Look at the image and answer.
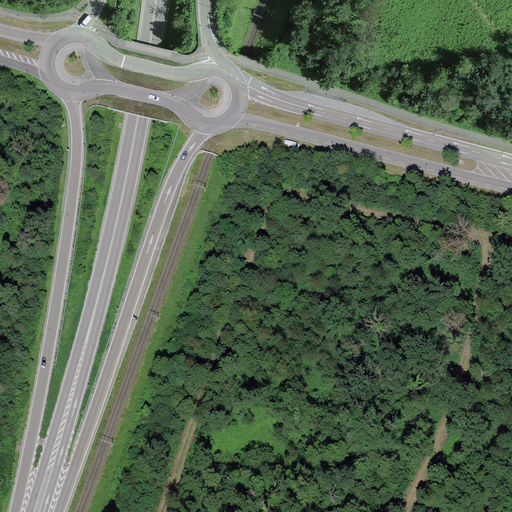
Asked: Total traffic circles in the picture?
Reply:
2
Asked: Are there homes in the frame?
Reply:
No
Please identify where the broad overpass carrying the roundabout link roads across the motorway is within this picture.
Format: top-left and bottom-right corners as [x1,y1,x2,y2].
[110,38,184,122]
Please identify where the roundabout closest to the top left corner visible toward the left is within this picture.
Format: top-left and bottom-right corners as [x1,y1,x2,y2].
[38,26,118,102]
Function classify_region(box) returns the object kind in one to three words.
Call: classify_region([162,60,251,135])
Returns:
roundabout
